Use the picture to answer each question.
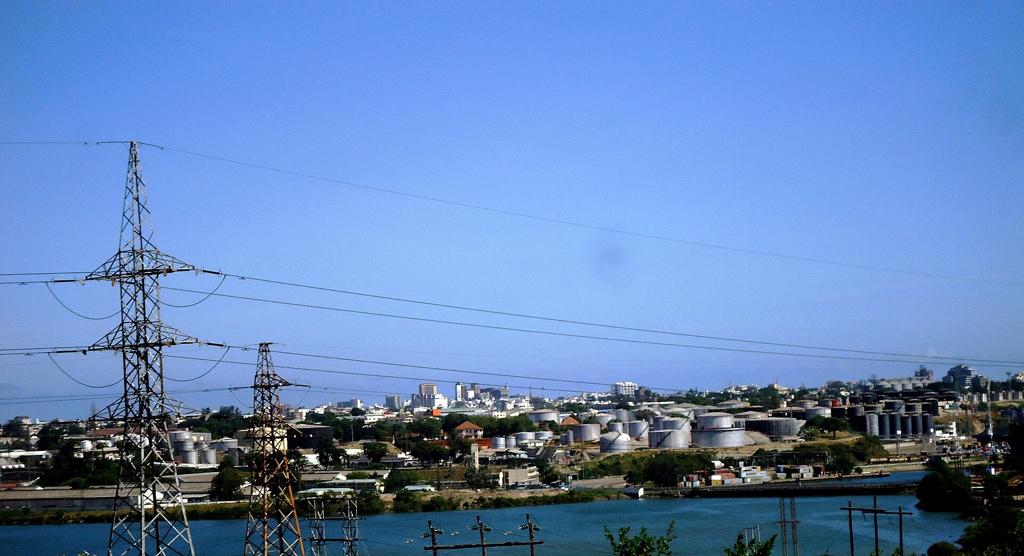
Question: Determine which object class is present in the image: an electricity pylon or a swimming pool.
electricity pylon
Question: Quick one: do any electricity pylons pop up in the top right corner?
No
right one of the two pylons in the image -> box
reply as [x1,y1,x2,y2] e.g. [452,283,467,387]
[229,342,322,556]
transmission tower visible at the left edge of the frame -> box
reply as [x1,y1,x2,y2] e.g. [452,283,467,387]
[32,142,248,556]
